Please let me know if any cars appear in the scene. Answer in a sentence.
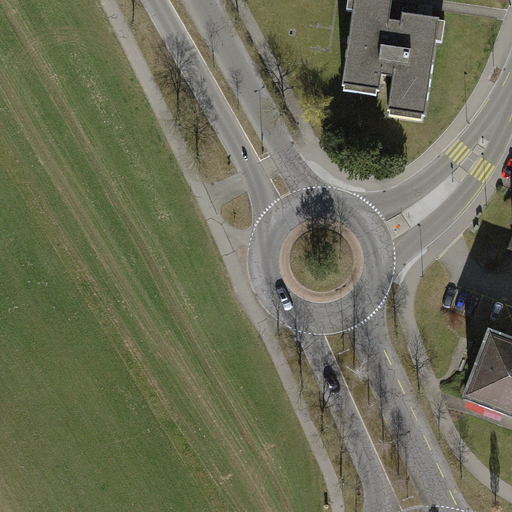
Yes, a car appears in the view.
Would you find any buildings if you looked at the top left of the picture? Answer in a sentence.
No, no building appears at the top left of the picture.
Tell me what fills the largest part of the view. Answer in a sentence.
Most of the picture is covered by grass.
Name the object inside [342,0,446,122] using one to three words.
building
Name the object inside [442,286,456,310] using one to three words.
vehicle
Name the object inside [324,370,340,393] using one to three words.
car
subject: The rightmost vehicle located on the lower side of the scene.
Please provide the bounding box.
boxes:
[490,300,504,322]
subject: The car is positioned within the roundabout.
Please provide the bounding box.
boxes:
[277,287,294,311]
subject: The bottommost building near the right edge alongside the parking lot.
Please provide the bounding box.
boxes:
[463,329,512,421]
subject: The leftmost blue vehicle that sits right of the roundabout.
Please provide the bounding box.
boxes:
[455,290,468,311]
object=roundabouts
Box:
[248,186,396,336]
